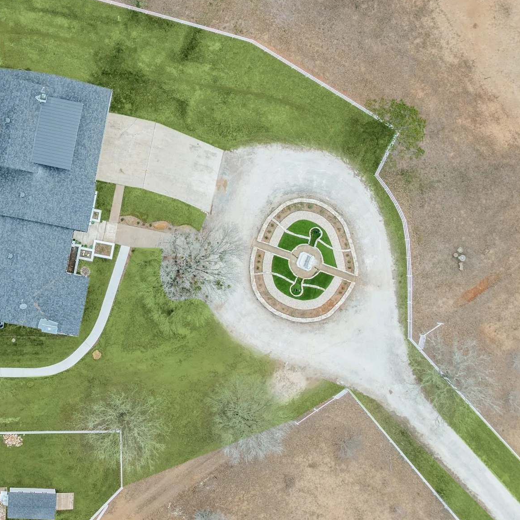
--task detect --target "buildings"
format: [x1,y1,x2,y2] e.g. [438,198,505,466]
[0,69,113,336]
[8,488,56,520]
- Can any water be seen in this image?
No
